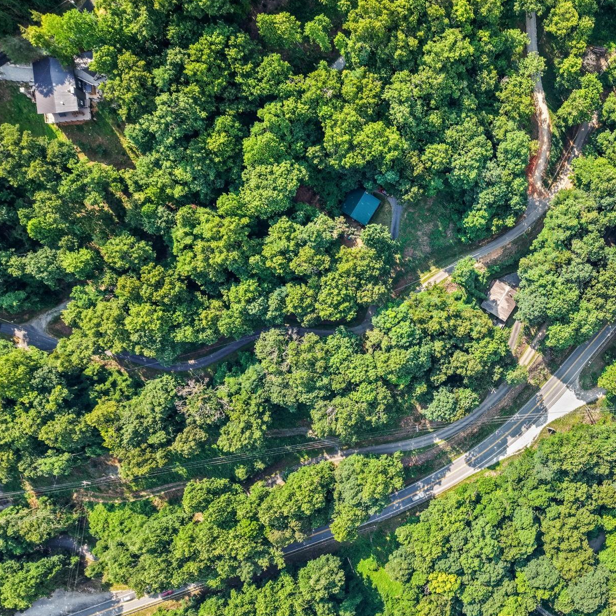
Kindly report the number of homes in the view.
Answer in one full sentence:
The count of homes comes to 3.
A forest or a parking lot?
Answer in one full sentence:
What you see here is a forest.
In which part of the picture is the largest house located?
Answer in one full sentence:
The largest house is in the top left part of the image.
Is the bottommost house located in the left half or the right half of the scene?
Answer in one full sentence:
The bottommost house sits on the right side.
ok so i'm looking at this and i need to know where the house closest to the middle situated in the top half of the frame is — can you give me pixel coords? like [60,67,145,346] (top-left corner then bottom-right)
[342,189,381,226]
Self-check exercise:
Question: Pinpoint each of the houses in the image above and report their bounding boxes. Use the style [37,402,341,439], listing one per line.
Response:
[481,280,520,330]
[20,57,104,125]
[342,189,381,226]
